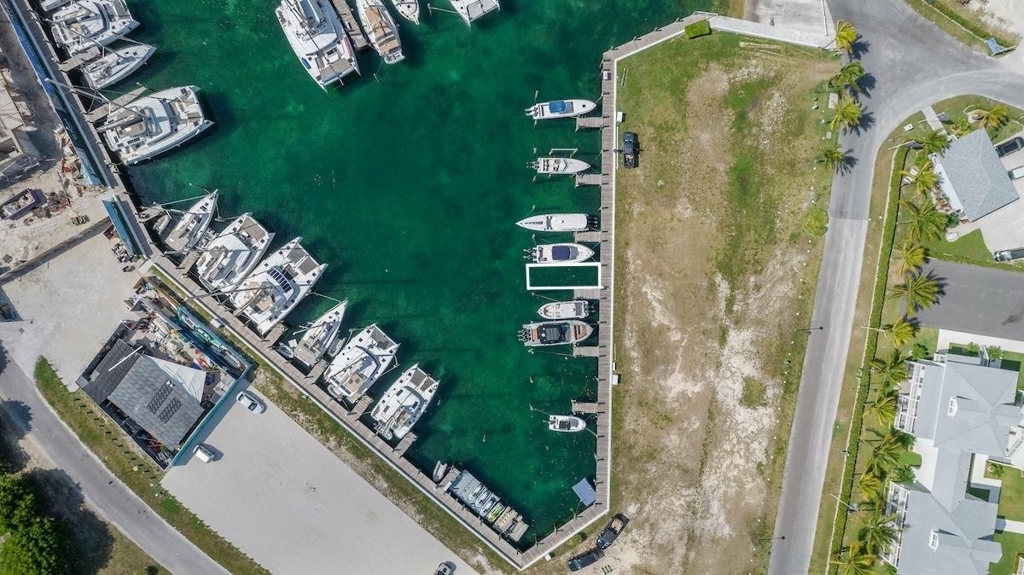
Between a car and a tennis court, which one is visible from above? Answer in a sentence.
Visible in the photo is a car.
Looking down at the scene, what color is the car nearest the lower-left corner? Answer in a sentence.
The car nearest the lower-left corner is white.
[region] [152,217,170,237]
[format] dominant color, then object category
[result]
gray boat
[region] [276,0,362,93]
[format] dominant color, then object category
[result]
white boat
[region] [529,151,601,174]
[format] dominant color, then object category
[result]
white boat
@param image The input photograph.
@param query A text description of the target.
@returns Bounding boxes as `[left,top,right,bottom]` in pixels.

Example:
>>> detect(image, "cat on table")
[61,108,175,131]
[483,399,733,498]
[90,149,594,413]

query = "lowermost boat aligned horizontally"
[534,408,597,437]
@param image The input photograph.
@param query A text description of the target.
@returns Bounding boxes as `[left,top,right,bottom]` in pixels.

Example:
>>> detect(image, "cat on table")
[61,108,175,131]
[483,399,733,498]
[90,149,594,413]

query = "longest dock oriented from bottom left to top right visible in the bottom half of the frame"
[521,502,610,568]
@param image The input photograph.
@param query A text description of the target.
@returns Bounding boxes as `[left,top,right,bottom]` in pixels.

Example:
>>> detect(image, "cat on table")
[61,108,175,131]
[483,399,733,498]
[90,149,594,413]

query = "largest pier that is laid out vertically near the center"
[595,53,614,508]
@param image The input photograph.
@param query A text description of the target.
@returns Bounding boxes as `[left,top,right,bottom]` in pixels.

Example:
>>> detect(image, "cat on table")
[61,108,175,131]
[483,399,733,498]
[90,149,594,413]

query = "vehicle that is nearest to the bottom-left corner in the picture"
[191,444,216,465]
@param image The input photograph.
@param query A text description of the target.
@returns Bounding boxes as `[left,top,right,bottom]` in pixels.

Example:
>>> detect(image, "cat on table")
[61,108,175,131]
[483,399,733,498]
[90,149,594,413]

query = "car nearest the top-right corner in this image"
[995,134,1024,157]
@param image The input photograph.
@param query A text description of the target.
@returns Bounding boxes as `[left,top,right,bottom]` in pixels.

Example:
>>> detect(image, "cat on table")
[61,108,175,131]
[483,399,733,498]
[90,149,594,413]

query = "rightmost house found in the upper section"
[924,128,1020,222]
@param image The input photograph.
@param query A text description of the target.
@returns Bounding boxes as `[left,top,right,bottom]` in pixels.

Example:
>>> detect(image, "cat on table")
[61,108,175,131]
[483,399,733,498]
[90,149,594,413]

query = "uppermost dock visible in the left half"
[332,0,368,49]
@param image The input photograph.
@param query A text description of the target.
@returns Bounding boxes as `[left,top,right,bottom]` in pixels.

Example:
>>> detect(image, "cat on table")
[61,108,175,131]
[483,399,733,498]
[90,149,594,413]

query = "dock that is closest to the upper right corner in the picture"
[604,10,716,60]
